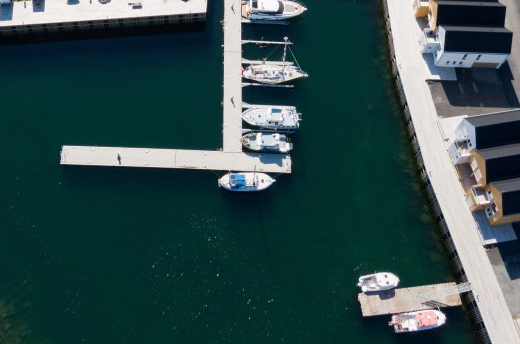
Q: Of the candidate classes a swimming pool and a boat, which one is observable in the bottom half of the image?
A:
boat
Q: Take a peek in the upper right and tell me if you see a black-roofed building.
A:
Yes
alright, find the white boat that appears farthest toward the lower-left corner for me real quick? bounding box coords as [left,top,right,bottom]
[215,172,275,191]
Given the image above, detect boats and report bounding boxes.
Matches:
[215,172,275,191]
[242,106,305,131]
[389,311,447,335]
[356,272,400,291]
[241,0,309,19]
[241,42,307,83]
[241,132,295,154]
